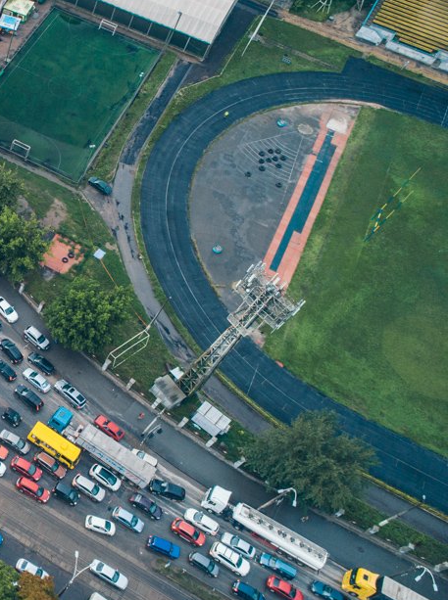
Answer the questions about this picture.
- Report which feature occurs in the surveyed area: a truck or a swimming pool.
truck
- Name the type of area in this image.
sports ground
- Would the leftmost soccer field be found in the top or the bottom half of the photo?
top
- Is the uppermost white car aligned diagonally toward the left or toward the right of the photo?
left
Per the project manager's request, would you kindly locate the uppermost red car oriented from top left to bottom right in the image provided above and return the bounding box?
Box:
[93,415,126,442]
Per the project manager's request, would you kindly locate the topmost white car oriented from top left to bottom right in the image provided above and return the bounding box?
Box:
[0,296,20,325]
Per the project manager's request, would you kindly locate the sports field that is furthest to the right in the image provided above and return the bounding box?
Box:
[268,103,448,453]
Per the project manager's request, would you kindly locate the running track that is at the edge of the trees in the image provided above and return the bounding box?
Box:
[139,56,448,509]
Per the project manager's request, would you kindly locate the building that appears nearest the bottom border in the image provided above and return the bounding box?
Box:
[188,402,231,441]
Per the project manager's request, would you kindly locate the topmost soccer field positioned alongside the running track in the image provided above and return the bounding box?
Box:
[0,8,161,180]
